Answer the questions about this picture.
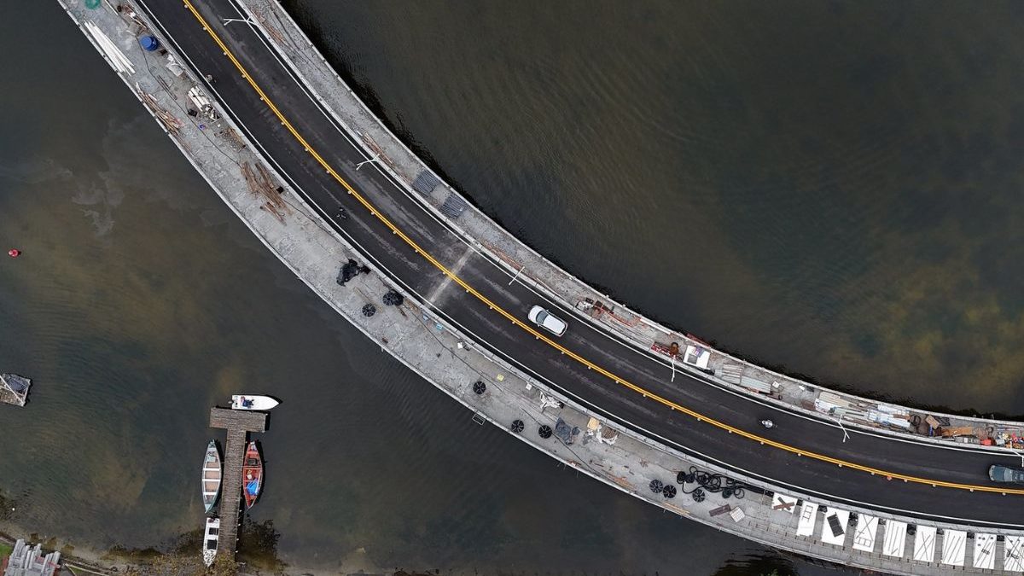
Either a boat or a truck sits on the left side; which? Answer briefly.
boat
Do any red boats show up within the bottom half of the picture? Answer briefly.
Yes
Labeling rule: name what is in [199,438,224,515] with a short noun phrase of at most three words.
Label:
boat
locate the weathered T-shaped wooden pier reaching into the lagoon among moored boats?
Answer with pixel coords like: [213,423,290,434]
[208,408,267,559]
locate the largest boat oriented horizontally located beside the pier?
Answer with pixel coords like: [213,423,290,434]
[227,394,281,410]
